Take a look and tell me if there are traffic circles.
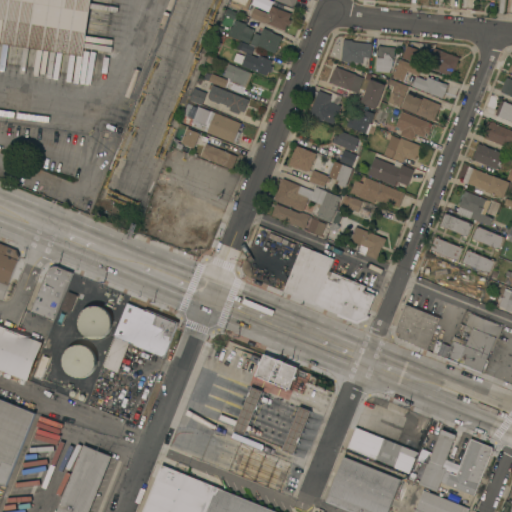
No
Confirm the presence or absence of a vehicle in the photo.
Yes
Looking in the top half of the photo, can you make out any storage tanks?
No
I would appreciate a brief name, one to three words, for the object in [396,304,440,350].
building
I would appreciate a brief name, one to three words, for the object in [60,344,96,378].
storage tank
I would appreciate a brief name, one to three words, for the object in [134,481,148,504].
vehicle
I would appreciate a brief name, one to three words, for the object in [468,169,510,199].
house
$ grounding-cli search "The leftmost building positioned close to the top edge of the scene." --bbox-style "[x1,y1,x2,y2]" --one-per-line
[0,0,92,58]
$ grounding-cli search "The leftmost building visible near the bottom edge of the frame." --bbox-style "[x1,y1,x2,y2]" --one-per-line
[0,398,37,487]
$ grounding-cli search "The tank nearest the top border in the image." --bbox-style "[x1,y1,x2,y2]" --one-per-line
[76,305,112,339]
